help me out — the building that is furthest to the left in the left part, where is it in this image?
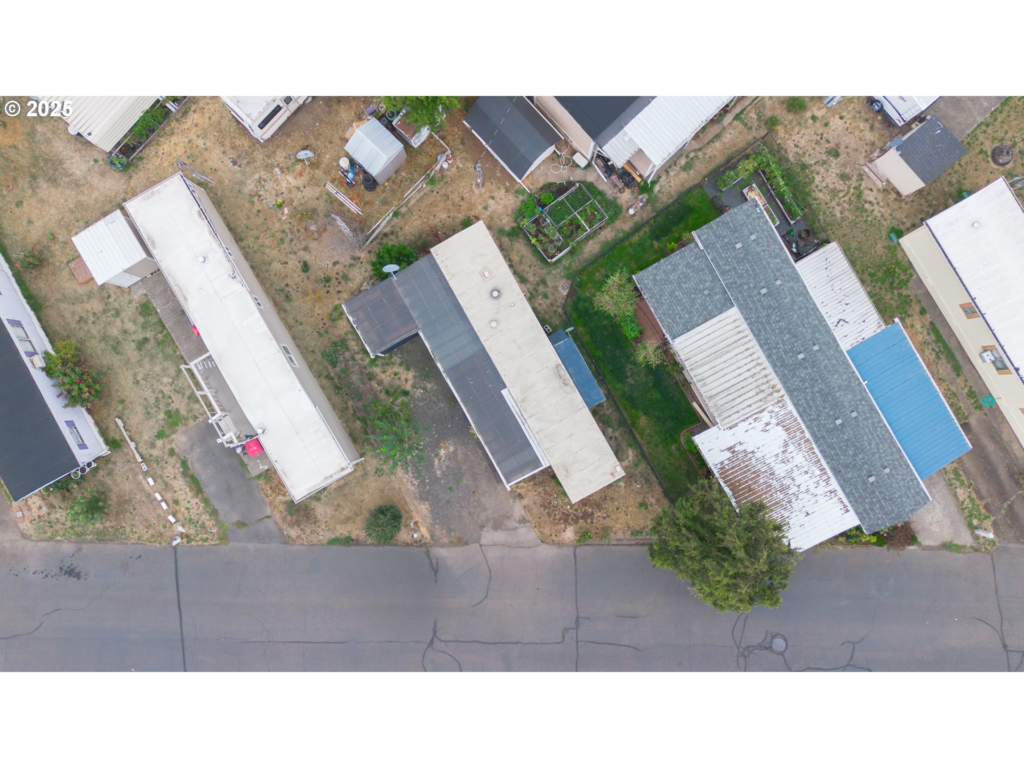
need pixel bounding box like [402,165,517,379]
[0,256,110,503]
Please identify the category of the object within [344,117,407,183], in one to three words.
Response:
shed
